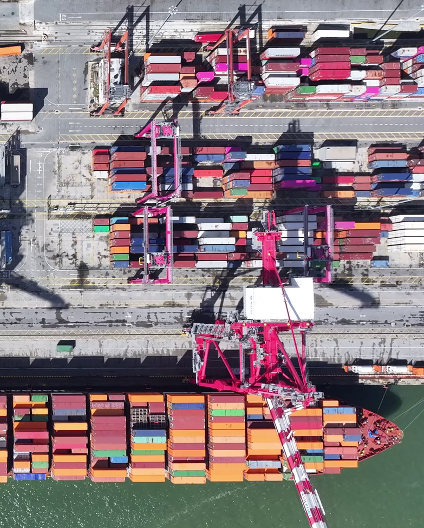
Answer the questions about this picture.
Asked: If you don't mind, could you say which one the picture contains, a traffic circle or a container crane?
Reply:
container crane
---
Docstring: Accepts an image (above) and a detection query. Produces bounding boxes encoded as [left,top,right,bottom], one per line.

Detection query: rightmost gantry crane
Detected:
[277,210,332,284]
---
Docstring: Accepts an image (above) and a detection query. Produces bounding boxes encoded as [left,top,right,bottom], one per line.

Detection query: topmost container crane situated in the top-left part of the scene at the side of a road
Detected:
[91,30,134,116]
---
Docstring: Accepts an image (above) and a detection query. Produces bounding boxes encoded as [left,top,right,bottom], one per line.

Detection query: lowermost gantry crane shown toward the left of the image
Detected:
[128,210,171,284]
